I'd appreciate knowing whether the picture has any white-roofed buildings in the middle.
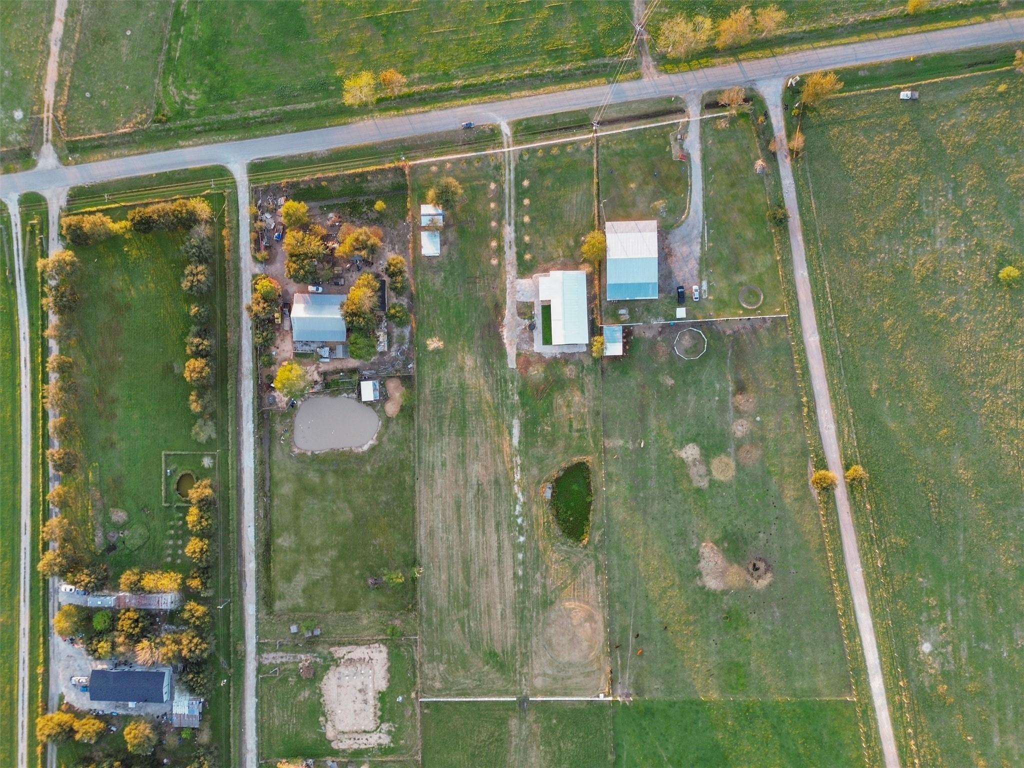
Yes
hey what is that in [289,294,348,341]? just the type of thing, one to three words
house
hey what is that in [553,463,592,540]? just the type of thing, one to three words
pond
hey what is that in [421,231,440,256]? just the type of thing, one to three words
shed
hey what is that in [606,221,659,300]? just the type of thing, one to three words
barn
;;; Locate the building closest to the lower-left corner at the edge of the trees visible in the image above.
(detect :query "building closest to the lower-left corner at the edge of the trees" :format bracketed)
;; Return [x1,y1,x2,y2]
[86,668,168,702]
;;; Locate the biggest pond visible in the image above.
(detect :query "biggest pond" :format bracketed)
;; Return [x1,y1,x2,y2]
[294,397,379,451]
